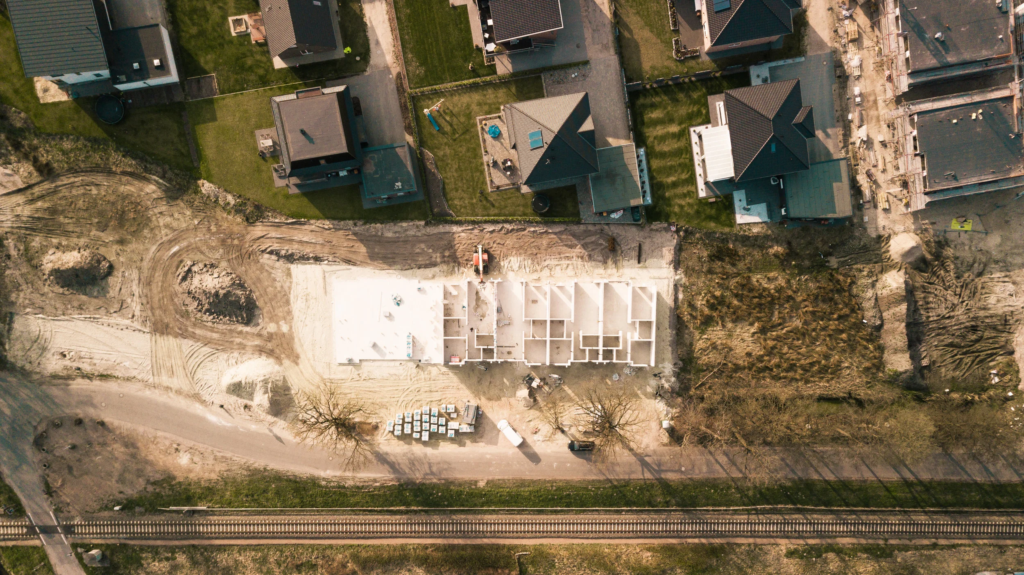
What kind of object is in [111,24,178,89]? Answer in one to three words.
building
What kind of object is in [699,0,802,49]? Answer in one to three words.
house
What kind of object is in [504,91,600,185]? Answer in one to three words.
house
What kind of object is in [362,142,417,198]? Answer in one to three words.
building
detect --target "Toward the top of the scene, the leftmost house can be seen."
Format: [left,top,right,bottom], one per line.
[4,0,113,87]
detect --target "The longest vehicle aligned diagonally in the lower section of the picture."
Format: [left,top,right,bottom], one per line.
[497,419,524,450]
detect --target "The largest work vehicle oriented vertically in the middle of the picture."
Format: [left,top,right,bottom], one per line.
[473,245,489,290]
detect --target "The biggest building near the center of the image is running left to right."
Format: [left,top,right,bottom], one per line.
[335,278,657,367]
